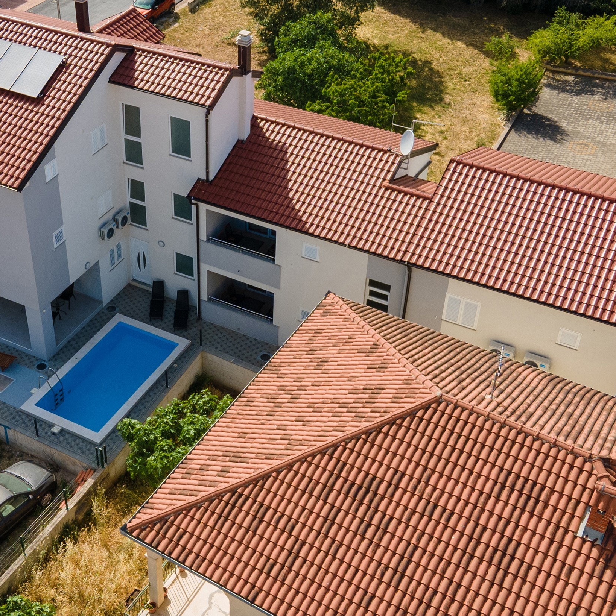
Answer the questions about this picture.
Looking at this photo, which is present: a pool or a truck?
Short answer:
pool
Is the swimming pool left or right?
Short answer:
left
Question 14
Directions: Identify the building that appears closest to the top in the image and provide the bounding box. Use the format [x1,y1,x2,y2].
[0,0,616,397]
